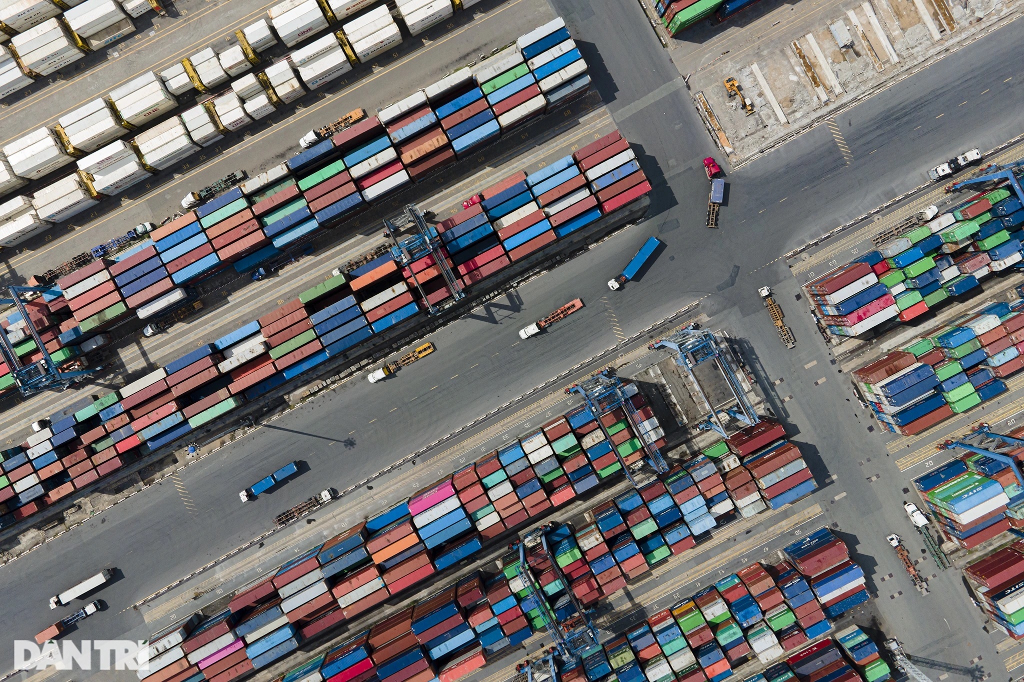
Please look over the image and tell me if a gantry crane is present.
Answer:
Yes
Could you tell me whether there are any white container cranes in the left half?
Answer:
No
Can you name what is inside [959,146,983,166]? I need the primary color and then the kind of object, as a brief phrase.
white vehicle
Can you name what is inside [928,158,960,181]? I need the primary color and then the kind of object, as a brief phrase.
white truck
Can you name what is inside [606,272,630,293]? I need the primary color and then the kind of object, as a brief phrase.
white truck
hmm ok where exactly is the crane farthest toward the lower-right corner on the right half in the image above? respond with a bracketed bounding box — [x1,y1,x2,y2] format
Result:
[971,422,1024,491]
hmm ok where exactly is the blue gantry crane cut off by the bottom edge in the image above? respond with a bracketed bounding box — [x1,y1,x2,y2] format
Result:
[507,645,560,682]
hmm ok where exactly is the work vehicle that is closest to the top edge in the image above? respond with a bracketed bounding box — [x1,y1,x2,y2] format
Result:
[727,78,748,117]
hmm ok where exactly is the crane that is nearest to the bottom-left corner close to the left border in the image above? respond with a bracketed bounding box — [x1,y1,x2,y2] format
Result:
[0,282,112,400]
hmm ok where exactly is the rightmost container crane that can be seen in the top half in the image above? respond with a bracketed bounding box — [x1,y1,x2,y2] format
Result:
[946,159,1024,222]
